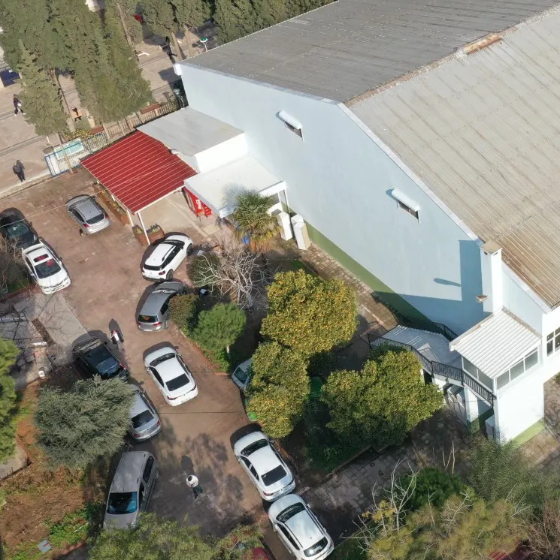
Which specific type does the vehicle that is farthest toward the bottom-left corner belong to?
car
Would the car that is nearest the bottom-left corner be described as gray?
Yes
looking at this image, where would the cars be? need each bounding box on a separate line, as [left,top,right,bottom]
[266,489,339,560]
[145,345,200,408]
[67,332,136,388]
[232,427,294,504]
[0,206,45,252]
[136,231,191,282]
[100,442,159,534]
[15,243,73,291]
[137,278,185,331]
[113,383,170,447]
[63,197,115,235]
[225,341,260,407]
